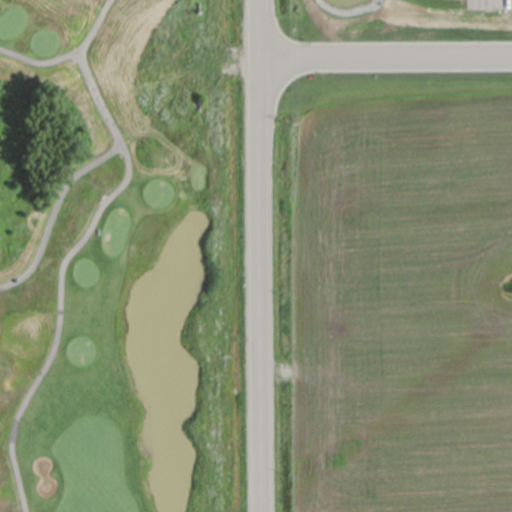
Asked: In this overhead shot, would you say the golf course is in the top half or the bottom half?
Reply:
bottom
